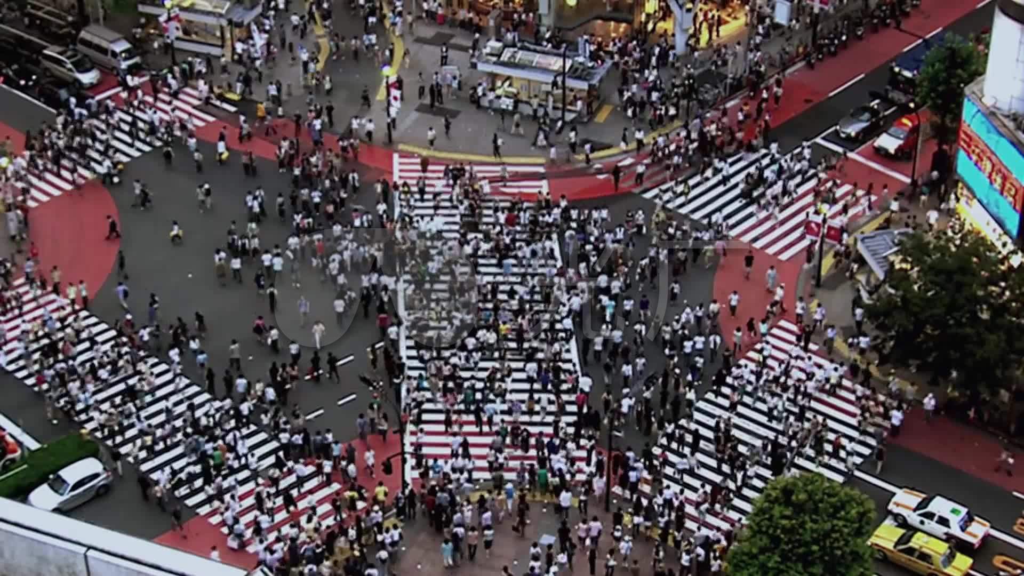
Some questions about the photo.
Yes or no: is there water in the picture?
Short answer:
No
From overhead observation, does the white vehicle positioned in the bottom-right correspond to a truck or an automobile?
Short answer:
automobile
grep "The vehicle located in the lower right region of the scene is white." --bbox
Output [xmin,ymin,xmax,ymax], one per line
[881,486,997,550]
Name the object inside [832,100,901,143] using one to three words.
car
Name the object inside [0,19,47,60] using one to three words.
car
